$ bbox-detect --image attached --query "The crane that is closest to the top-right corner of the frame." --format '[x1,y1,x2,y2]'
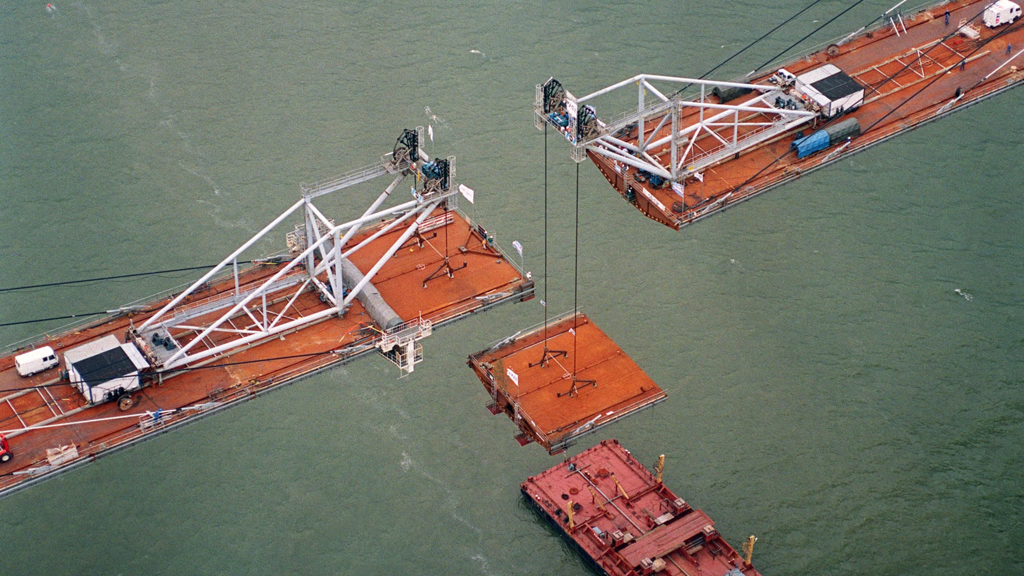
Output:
[530,72,826,185]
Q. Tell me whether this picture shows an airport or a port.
port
